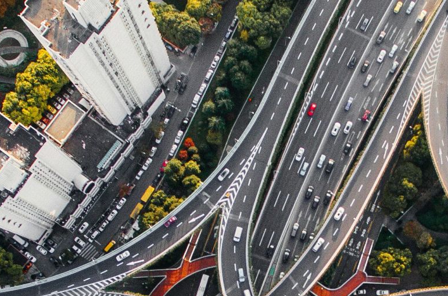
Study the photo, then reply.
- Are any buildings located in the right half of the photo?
No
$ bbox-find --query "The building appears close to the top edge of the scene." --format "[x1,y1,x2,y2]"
[17,0,172,115]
